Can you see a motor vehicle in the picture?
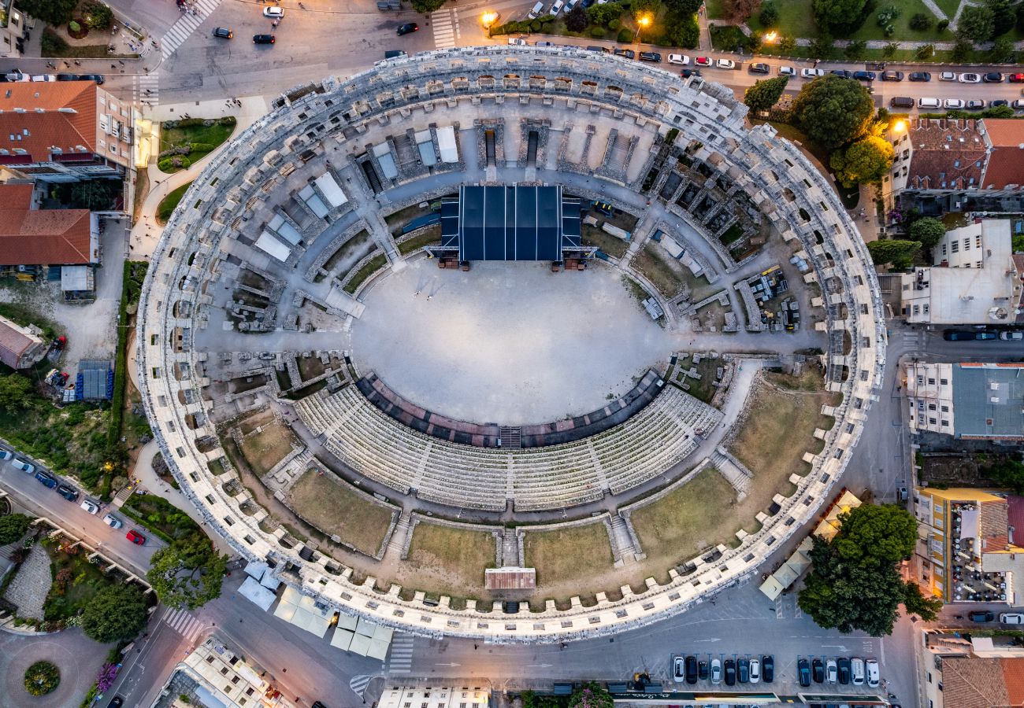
Yes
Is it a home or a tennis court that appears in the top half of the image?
home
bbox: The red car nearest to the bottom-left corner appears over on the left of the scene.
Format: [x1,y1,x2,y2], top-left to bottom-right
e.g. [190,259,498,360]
[125,528,147,545]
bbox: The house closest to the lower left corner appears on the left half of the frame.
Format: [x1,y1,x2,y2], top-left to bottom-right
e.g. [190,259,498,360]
[150,638,263,708]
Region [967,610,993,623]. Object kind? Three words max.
vehicle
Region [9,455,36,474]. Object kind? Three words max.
vehicle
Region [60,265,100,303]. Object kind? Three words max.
shed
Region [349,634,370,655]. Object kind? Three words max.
tent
